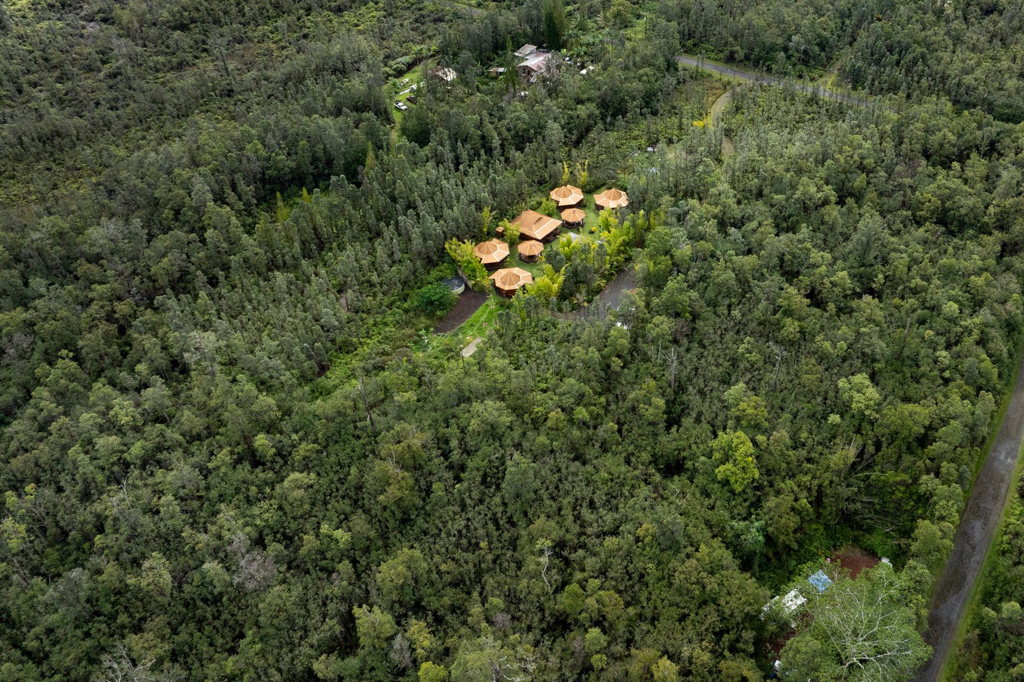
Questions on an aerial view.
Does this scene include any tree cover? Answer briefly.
Yes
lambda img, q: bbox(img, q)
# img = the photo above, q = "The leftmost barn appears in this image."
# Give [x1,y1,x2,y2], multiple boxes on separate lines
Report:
[428,66,457,85]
